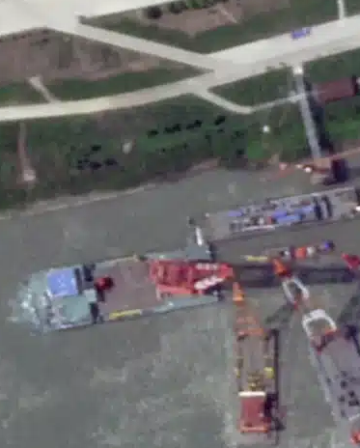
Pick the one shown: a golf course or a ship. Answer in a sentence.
There is a ship in the scene.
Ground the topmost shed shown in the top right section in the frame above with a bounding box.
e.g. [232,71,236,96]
[317,79,357,100]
